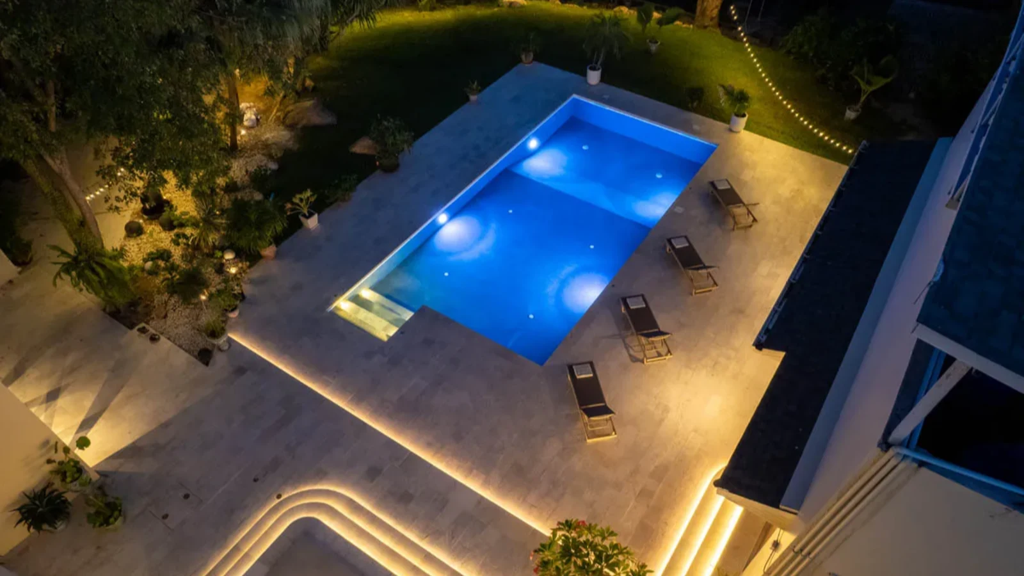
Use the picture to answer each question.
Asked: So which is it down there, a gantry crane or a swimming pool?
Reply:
swimming pool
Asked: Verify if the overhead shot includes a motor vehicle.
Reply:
No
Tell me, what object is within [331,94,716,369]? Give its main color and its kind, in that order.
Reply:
blue swimming pool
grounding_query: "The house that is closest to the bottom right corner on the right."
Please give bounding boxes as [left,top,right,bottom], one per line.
[715,2,1024,576]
